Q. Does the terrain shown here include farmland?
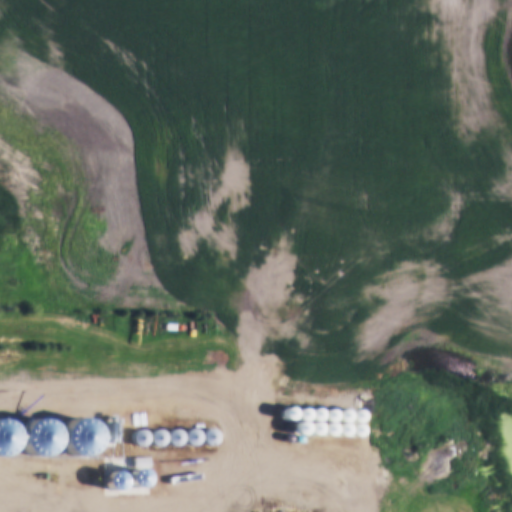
Yes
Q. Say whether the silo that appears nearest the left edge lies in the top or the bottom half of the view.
bottom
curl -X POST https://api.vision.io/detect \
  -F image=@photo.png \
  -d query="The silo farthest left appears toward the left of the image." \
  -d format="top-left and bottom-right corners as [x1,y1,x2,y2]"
[0,417,28,458]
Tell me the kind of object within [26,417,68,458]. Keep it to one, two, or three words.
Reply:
silo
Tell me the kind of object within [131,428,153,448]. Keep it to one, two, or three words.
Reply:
silo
